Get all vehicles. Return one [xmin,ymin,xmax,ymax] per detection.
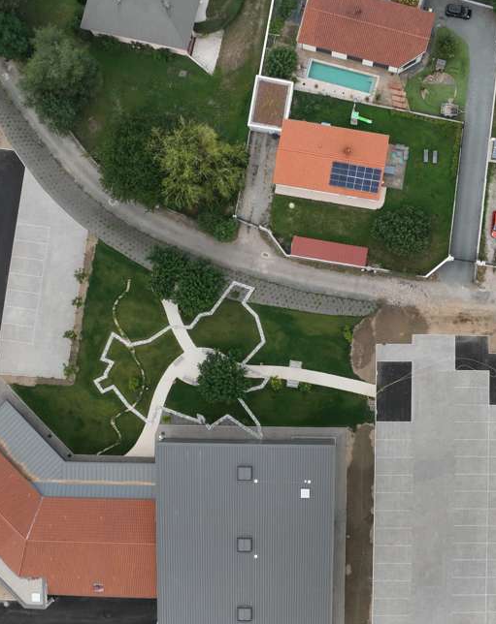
[490,211,496,238]
[444,1,471,21]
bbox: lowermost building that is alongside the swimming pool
[273,120,389,210]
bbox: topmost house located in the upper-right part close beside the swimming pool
[298,0,435,73]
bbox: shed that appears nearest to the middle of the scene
[291,236,368,267]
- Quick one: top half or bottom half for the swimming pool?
top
